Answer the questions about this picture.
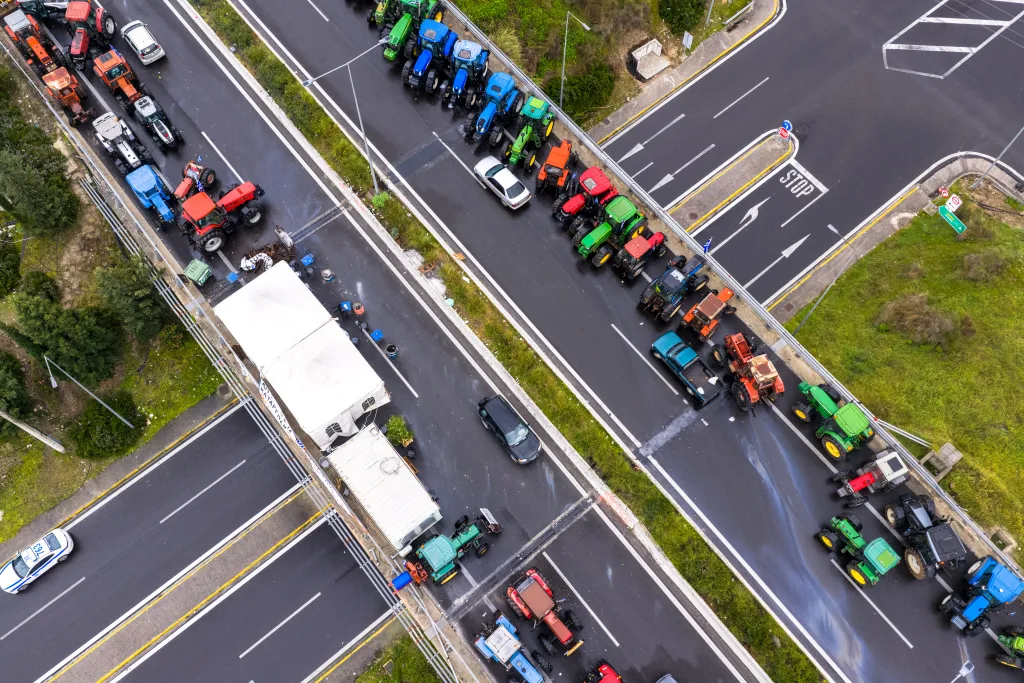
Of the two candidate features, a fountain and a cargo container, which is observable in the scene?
cargo container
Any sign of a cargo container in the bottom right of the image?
No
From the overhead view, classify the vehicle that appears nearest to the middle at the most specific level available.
automobile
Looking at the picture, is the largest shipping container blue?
No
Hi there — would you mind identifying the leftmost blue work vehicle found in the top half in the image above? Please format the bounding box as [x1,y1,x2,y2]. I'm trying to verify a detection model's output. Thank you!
[129,168,182,235]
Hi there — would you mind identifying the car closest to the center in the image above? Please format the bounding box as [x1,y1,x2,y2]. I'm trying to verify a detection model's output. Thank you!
[475,392,541,466]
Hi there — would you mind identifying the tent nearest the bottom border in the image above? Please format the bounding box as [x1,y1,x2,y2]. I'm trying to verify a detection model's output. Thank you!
[261,321,391,455]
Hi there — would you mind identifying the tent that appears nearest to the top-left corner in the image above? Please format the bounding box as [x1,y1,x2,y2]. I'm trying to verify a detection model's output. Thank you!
[215,261,329,367]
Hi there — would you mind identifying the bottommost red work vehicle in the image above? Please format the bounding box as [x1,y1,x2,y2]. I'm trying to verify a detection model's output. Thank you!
[579,657,629,683]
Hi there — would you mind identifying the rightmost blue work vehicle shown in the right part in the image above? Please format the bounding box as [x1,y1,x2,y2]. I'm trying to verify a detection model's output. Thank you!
[933,554,1024,641]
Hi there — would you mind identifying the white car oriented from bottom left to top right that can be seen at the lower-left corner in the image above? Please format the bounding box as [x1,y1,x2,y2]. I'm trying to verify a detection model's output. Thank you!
[0,529,76,593]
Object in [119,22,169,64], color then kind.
white car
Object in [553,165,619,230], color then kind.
red work vehicle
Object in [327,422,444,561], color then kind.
white shipping container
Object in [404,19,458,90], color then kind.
blue work vehicle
